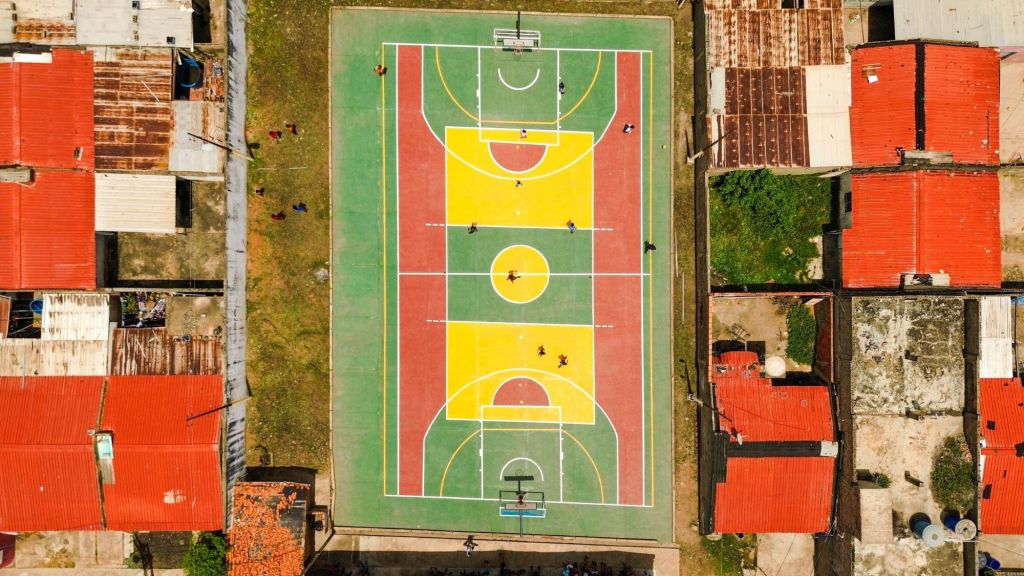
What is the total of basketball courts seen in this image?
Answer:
one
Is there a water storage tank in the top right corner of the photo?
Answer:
No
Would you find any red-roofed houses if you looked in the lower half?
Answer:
Yes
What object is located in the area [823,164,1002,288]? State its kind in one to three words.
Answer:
house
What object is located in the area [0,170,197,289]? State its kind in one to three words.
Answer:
house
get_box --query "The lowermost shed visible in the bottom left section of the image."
[227,473,315,576]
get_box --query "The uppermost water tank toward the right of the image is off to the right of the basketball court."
[758,354,786,378]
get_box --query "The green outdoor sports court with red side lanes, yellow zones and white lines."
[328,7,676,548]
